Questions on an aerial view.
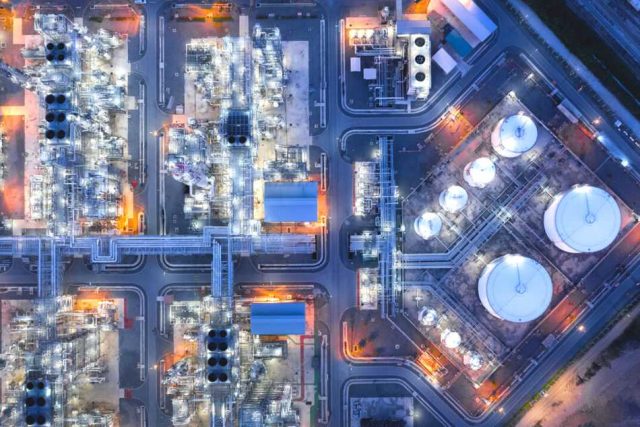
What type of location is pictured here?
industrial area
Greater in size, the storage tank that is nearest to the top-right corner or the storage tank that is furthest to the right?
the storage tank that is furthest to the right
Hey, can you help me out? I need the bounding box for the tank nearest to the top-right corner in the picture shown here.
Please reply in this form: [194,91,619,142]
[493,114,538,157]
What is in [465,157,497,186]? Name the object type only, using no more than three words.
storage tank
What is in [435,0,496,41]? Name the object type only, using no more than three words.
building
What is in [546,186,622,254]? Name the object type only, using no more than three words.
storage tank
